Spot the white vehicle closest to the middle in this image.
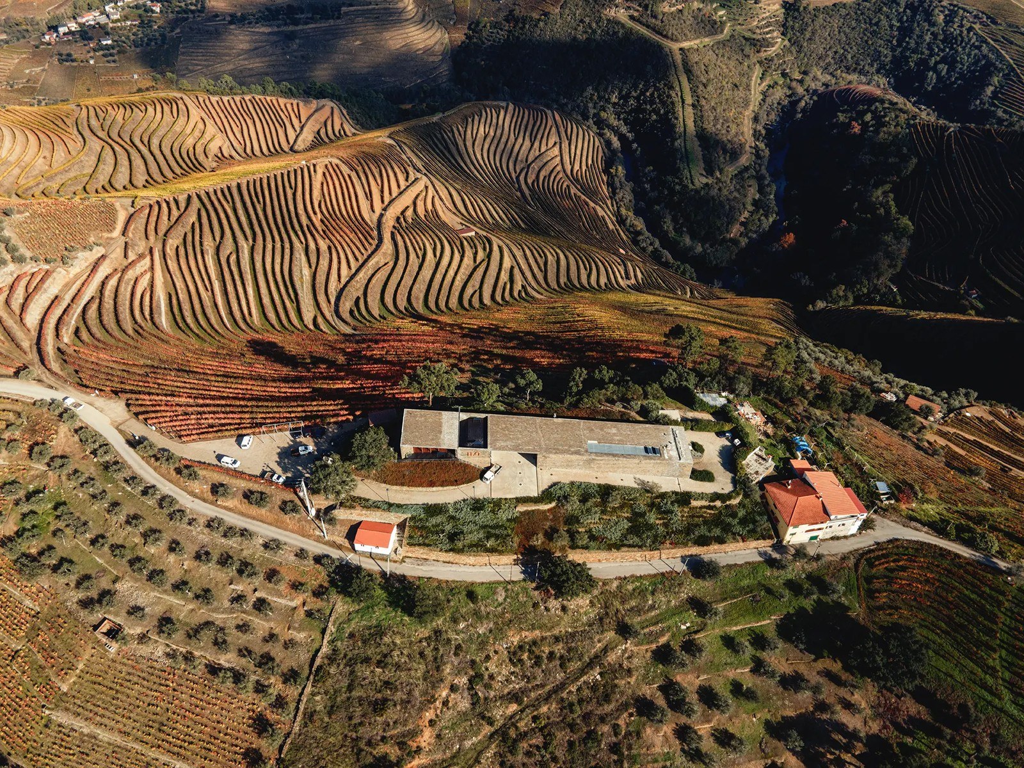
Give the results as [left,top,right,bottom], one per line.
[482,463,504,483]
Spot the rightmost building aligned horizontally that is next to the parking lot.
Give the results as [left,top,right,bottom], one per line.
[397,408,693,479]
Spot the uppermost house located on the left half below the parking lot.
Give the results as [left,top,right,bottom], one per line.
[353,517,394,555]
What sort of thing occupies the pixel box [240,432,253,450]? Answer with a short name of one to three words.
vehicle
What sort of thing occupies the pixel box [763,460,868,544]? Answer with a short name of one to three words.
house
